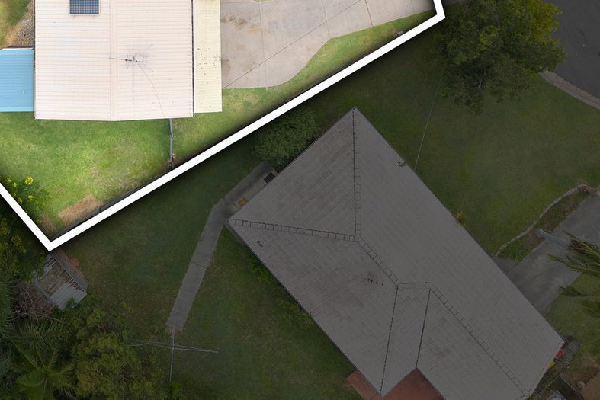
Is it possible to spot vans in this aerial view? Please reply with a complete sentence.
No, the photo shows no van.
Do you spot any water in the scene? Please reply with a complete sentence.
No, water can't be seen anywhere here.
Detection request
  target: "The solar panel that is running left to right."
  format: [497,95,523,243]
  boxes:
[69,0,99,14]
